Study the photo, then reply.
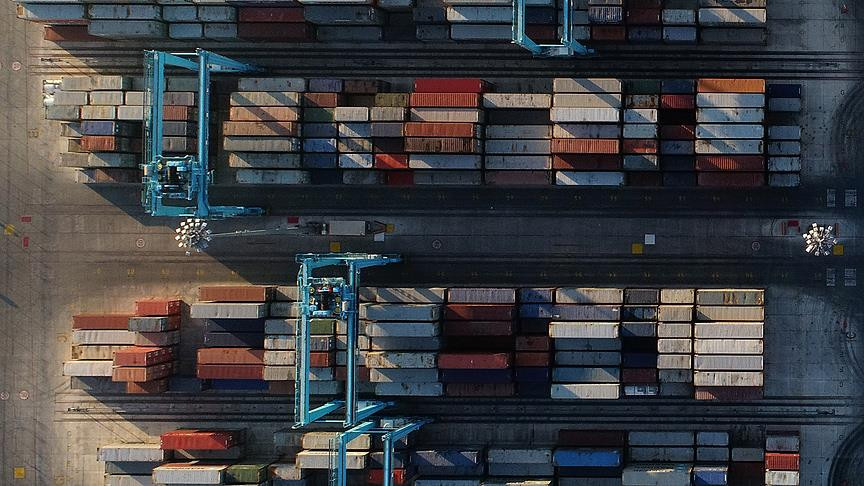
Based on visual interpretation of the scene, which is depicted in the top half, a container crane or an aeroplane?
container crane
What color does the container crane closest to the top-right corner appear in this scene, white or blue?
blue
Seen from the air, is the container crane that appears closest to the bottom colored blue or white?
blue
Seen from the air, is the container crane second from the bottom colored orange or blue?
blue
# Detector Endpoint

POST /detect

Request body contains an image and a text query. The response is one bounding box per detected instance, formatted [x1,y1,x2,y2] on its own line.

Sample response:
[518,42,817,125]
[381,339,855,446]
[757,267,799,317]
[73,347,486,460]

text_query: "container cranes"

[293,254,401,435]
[509,0,597,57]
[329,413,435,486]
[136,46,267,217]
